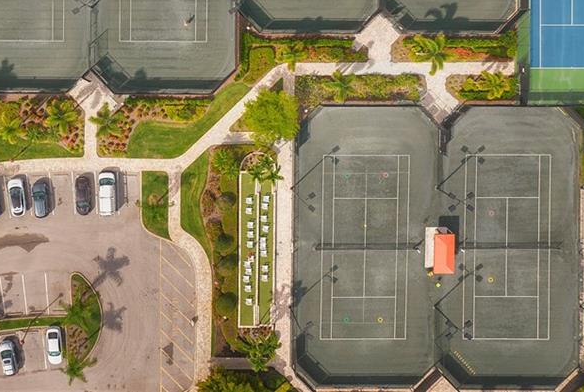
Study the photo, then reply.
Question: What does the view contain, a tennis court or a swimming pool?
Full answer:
This aerial view contains a tennis court.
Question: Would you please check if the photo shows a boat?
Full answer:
No, this view has no boat in it.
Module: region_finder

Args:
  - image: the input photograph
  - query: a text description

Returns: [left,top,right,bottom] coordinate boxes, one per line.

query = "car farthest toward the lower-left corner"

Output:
[0,338,18,377]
